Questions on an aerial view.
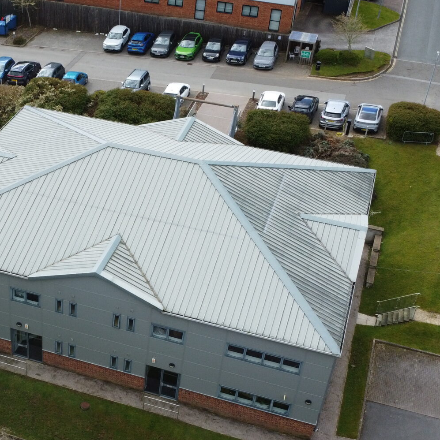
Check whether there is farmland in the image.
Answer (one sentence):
No, farmland can't be seen anywhere here.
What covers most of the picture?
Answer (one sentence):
The largest share of the image is taken up by buildings.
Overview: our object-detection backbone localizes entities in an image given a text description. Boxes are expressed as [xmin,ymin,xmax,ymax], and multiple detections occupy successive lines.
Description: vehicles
[173,34,201,60]
[99,23,130,51]
[124,30,152,54]
[354,104,384,133]
[159,78,192,105]
[34,58,65,75]
[225,36,253,65]
[0,54,15,82]
[197,36,223,62]
[120,61,152,92]
[148,32,175,57]
[253,42,279,68]
[4,61,40,85]
[64,67,89,84]
[321,98,350,128]
[257,89,285,106]
[289,93,316,121]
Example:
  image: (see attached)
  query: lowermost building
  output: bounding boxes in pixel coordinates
[0,104,378,439]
